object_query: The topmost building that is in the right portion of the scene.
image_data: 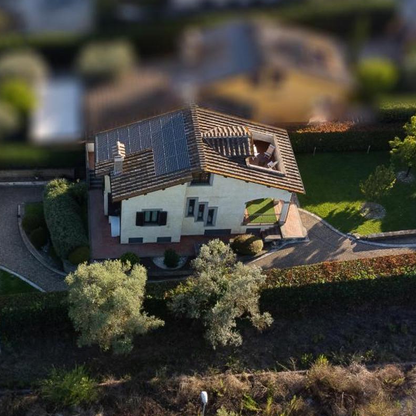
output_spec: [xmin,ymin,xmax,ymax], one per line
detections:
[174,19,357,125]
